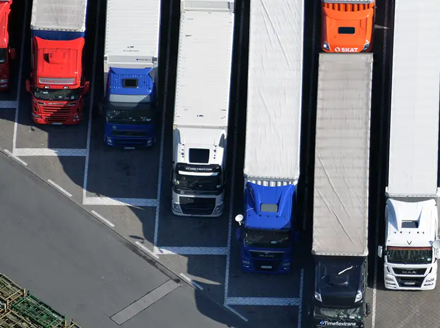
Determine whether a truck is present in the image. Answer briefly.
Yes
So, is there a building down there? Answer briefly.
No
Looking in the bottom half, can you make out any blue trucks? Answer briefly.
Yes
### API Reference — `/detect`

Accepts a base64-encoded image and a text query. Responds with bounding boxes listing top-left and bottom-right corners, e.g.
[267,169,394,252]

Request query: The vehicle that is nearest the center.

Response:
[166,128,231,215]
